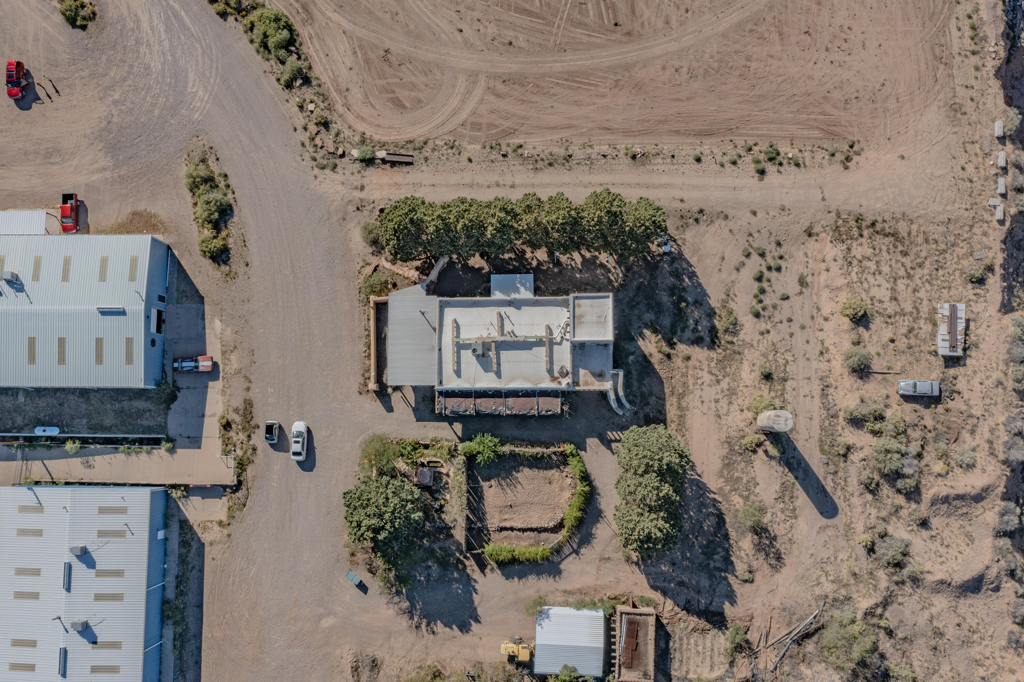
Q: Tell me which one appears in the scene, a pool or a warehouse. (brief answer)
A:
warehouse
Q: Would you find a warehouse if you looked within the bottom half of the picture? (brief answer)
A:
Yes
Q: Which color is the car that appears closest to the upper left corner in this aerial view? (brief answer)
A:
red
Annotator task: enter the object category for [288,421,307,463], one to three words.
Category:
car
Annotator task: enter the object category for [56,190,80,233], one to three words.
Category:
truck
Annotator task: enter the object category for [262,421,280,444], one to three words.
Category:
car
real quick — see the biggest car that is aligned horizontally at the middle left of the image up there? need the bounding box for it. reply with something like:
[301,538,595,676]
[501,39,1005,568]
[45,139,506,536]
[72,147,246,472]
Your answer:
[171,354,212,373]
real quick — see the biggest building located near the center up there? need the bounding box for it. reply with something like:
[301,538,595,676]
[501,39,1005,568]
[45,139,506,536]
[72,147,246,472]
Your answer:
[437,290,613,392]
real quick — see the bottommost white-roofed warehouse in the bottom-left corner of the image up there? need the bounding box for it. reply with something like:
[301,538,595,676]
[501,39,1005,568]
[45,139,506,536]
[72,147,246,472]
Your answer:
[0,484,168,682]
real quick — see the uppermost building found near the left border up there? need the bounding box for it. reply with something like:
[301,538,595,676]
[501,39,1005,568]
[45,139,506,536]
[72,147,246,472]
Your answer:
[0,233,168,391]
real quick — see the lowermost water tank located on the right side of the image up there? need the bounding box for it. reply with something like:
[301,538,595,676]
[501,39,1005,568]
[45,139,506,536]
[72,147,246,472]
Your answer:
[748,409,794,434]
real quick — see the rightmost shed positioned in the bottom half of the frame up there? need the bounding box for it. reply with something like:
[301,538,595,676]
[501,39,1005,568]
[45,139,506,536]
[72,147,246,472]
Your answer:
[610,596,655,682]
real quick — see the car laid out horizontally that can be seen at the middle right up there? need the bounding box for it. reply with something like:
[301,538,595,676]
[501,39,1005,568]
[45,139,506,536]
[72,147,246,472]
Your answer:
[899,379,941,398]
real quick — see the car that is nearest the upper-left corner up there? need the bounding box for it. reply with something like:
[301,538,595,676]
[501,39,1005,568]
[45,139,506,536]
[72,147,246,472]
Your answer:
[2,58,29,99]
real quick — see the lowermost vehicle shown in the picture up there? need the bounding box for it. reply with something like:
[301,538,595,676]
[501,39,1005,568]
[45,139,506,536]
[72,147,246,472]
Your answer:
[497,638,533,662]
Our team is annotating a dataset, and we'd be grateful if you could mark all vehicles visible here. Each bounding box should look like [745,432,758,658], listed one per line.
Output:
[2,58,29,99]
[171,354,212,373]
[262,421,280,444]
[288,421,307,463]
[56,190,80,233]
[899,379,941,398]
[497,638,533,662]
